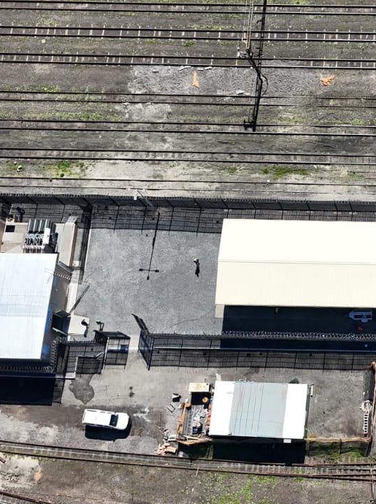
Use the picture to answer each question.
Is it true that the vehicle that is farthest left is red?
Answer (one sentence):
No, the vehicle that is farthest left is actually white.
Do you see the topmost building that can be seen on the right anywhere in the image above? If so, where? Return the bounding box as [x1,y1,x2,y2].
[215,217,376,311]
